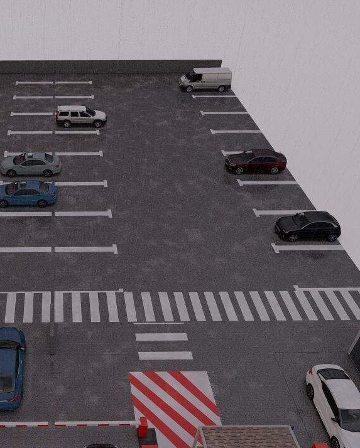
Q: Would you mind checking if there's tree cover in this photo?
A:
No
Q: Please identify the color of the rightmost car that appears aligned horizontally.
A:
black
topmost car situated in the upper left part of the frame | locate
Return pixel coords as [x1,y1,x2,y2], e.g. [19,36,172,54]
[58,105,109,127]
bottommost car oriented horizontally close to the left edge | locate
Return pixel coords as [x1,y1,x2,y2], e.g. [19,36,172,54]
[0,180,58,207]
